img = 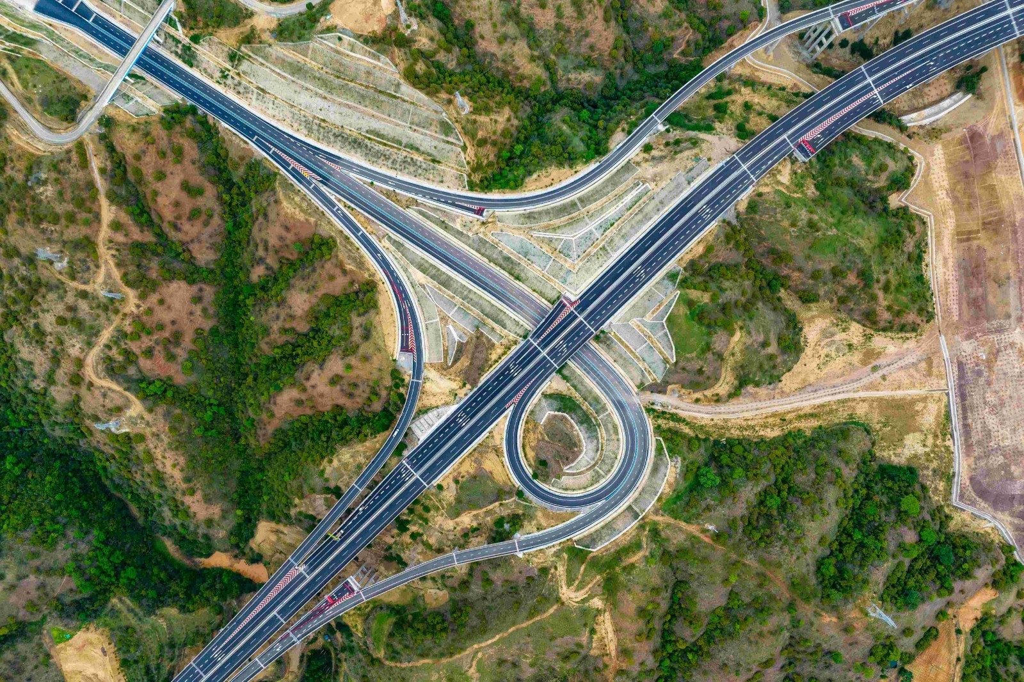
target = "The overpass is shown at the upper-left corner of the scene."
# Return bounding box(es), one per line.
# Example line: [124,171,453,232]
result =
[96,0,176,103]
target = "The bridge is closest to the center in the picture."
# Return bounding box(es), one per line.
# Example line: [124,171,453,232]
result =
[528,297,595,368]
